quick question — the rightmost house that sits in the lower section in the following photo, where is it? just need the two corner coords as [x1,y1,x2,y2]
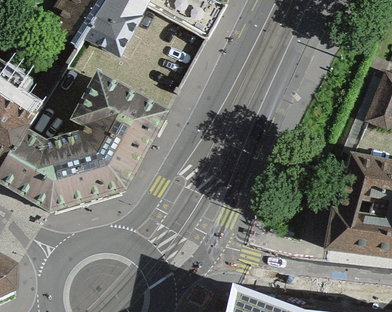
[324,151,392,260]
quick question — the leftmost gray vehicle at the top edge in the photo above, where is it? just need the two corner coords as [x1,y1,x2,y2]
[141,12,154,29]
